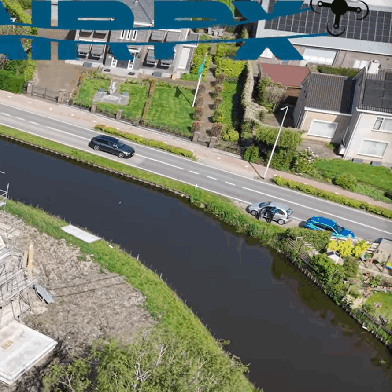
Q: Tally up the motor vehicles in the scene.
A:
three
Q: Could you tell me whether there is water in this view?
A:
Yes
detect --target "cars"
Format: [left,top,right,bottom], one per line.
[247,198,307,225]
[89,131,139,159]
[309,213,371,241]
